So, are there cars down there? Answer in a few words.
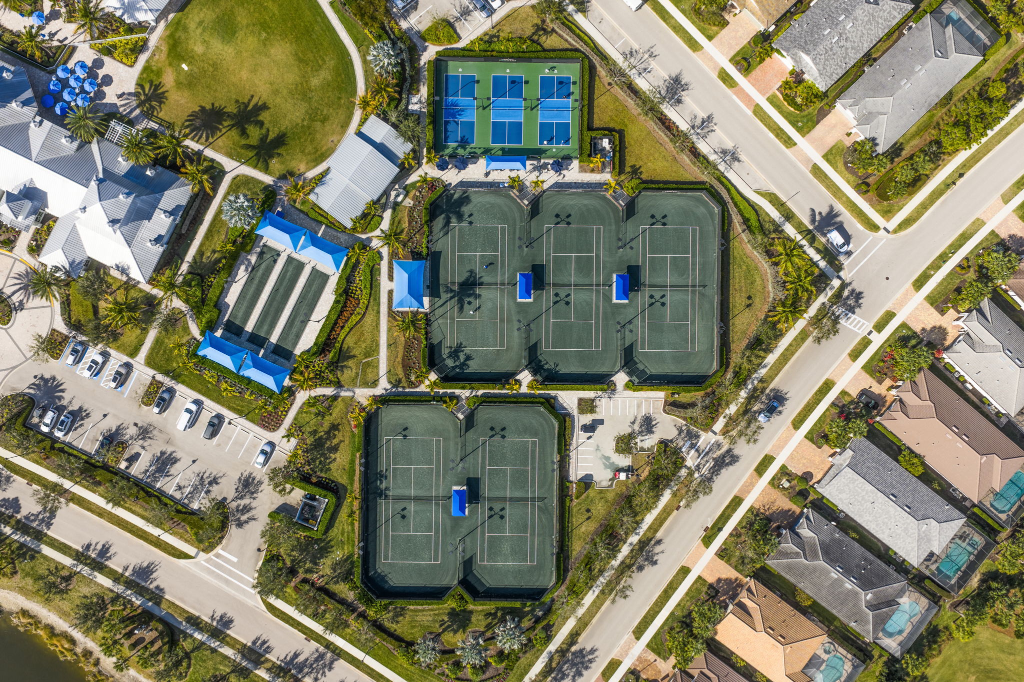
Yes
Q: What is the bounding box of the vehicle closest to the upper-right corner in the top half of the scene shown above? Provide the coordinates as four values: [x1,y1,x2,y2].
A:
[826,227,847,254]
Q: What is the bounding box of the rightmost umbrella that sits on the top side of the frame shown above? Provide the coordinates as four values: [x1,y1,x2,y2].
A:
[550,159,563,173]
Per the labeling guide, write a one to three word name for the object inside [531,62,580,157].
sports court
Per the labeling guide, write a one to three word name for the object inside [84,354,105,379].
car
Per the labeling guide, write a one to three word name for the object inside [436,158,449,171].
umbrella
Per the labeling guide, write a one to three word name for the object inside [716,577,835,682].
house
